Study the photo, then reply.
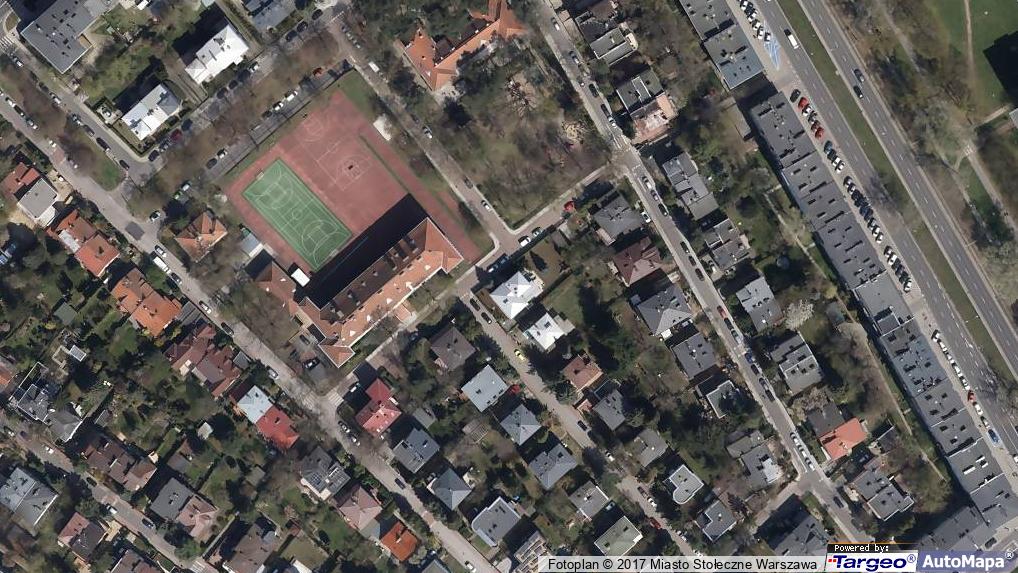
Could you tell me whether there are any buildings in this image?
Yes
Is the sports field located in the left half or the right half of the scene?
left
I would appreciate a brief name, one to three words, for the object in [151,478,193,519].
house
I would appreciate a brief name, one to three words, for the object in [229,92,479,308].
sports field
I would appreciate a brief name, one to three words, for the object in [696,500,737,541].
house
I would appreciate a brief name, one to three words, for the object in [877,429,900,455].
building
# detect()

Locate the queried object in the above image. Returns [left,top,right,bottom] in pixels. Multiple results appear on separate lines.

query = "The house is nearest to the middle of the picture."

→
[490,269,544,318]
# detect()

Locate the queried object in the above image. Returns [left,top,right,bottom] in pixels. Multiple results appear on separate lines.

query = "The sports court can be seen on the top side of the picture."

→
[242,159,352,272]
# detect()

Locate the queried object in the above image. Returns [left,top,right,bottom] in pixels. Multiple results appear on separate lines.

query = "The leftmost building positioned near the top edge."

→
[21,0,120,76]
